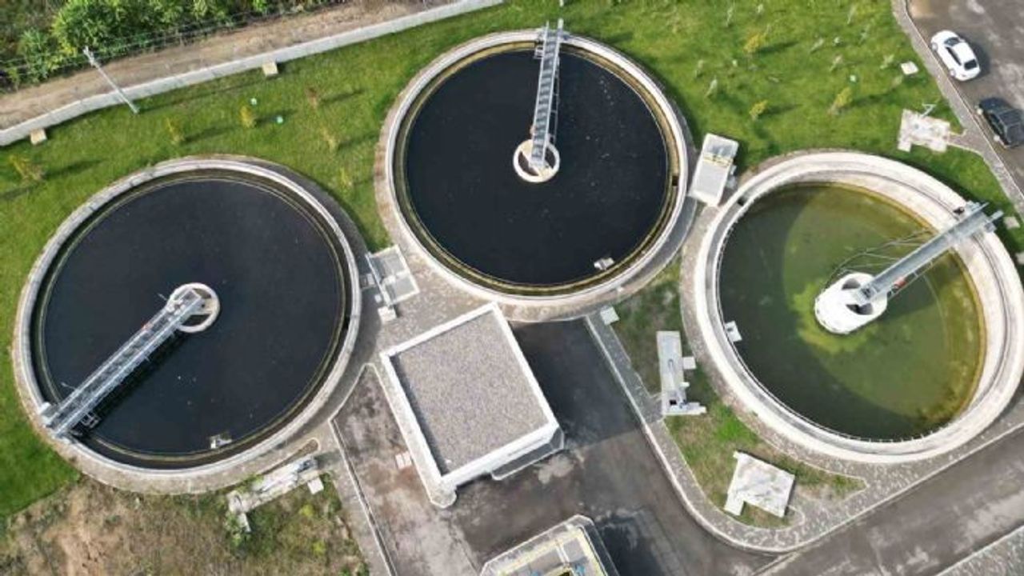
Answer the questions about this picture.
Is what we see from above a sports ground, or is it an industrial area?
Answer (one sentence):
This looks like an industrial area.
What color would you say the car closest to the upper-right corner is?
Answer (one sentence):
The car closest to the upper-right corner is white.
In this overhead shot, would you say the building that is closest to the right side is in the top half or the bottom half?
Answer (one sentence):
The building that is closest to the right side sits in the bottom half of the picture.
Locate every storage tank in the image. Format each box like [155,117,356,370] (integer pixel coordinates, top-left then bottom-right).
[21,160,363,479]
[382,32,688,307]
[690,151,1024,464]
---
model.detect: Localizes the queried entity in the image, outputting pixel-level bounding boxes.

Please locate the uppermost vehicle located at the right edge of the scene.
[930,29,979,80]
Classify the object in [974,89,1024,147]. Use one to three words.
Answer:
car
